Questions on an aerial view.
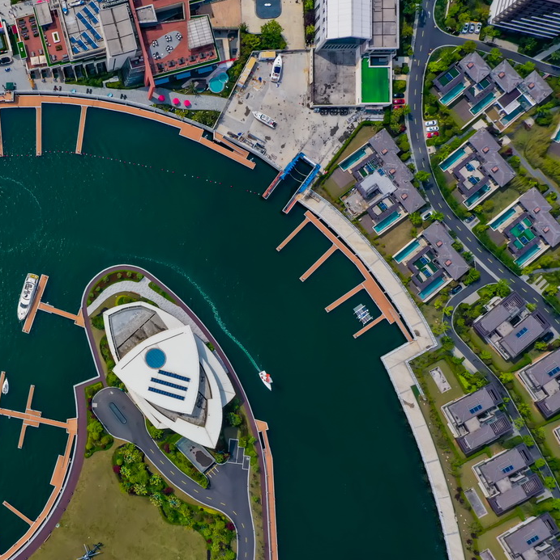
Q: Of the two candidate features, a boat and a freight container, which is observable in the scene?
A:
boat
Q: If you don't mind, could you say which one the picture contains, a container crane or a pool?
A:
pool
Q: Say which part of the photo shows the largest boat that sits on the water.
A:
left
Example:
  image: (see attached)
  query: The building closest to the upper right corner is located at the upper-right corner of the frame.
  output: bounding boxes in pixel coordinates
[487,0,560,37]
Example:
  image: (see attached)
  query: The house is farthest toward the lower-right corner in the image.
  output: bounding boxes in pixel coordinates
[494,511,560,560]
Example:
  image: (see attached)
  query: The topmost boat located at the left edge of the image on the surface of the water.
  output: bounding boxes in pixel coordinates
[18,271,39,320]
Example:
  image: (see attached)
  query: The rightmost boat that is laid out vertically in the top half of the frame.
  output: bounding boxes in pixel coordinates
[271,53,283,82]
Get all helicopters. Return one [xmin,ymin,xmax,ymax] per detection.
[78,543,103,560]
